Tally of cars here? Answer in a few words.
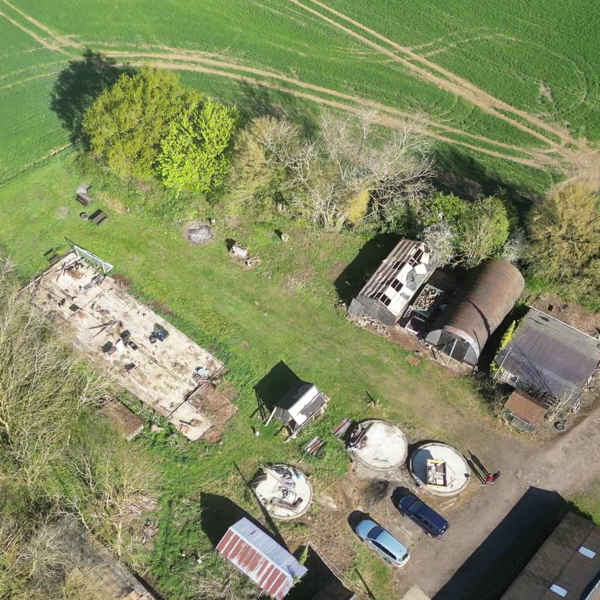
2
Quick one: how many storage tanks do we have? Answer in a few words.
3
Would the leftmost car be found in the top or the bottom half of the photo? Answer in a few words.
bottom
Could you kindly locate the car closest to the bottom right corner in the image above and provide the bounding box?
[398,494,454,545]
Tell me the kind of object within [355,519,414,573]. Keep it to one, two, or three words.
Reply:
car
